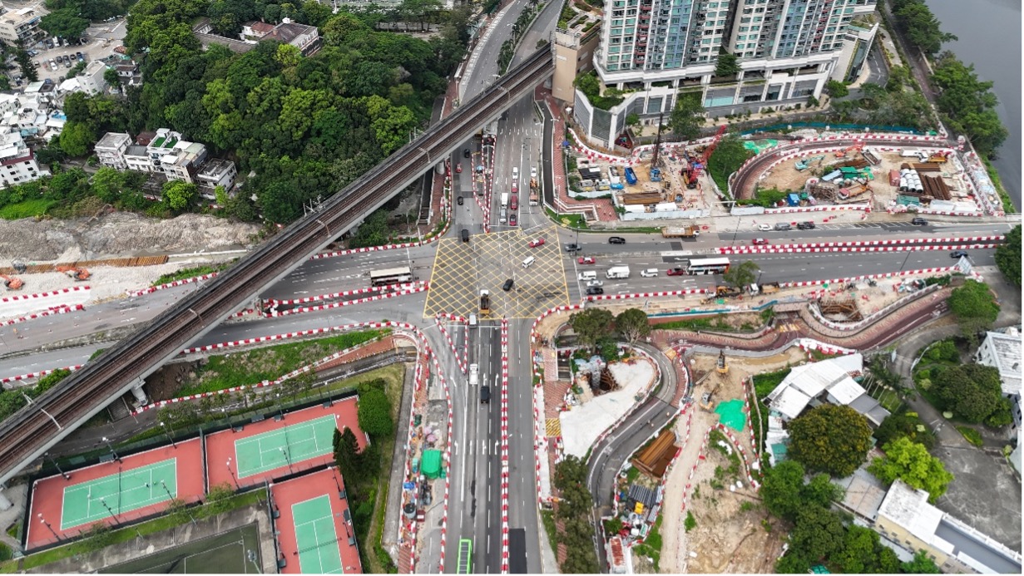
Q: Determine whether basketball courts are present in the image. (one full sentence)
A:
No, the scene contains no basketball court.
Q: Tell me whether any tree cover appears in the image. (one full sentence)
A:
Yes, the picture does contain tree cover.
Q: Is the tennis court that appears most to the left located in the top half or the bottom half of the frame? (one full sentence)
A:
You can find the tennis court that appears most to the left in the bottom half.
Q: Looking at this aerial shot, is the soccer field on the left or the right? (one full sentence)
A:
It is on the left.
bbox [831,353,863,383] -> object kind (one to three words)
shed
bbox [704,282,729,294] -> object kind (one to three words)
vehicle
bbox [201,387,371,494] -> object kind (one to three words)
tennis court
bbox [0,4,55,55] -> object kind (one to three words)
building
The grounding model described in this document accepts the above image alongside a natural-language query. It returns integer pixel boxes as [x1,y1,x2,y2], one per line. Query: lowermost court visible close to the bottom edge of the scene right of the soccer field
[265,458,364,576]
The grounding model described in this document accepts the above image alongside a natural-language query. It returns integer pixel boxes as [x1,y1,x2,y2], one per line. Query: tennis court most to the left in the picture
[16,428,206,551]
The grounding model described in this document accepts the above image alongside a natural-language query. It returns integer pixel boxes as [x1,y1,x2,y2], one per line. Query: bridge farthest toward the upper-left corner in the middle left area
[0,44,552,492]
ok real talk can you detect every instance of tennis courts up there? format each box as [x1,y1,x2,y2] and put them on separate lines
[16,428,206,551]
[201,387,371,494]
[265,458,364,576]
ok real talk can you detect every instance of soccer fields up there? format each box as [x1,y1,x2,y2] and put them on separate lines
[98,523,264,576]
